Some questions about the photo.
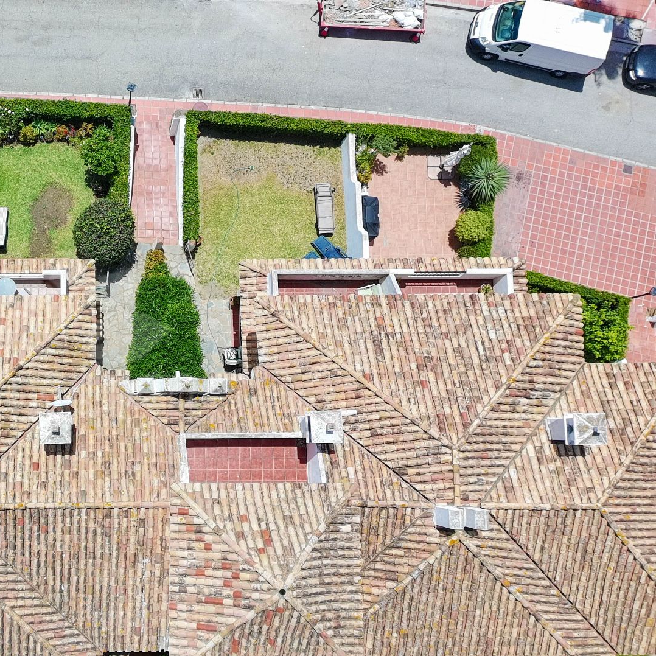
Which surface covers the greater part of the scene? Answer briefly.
buildings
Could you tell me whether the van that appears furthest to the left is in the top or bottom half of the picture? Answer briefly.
top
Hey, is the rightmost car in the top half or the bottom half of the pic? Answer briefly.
top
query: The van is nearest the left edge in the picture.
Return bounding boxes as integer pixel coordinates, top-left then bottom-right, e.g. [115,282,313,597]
[454,0,612,81]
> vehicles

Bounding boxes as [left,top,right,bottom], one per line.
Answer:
[454,0,612,81]
[618,50,656,102]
